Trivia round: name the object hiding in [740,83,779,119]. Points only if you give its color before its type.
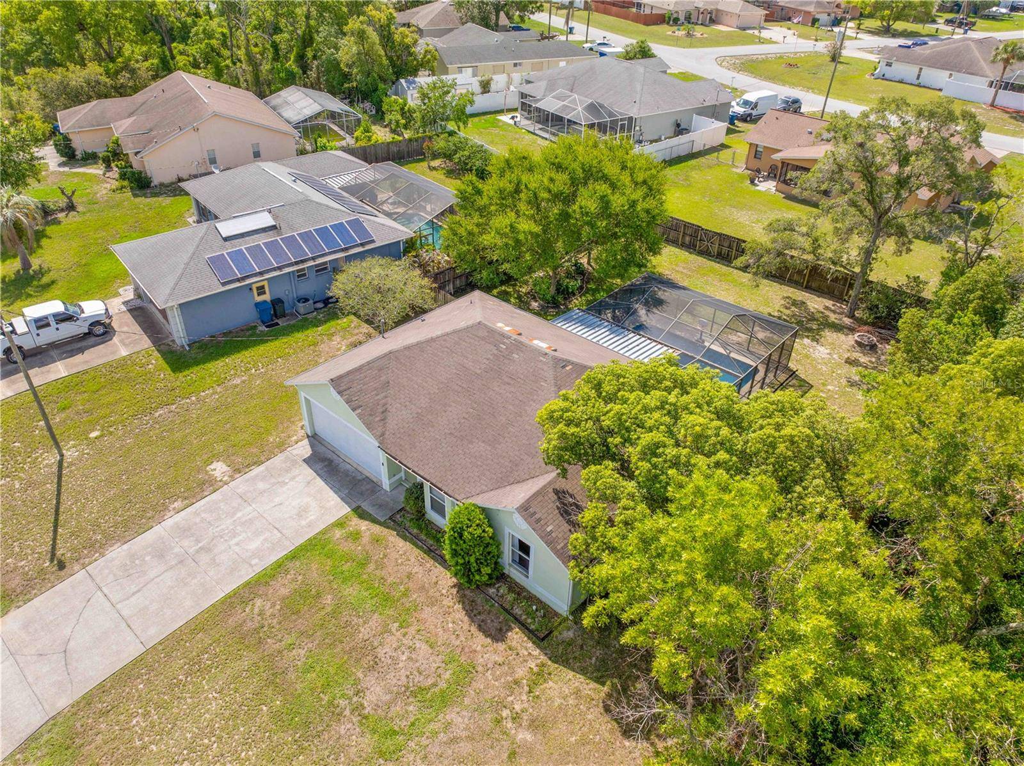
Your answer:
white van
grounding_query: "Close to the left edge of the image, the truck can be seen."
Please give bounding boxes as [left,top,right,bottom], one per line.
[0,297,119,364]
